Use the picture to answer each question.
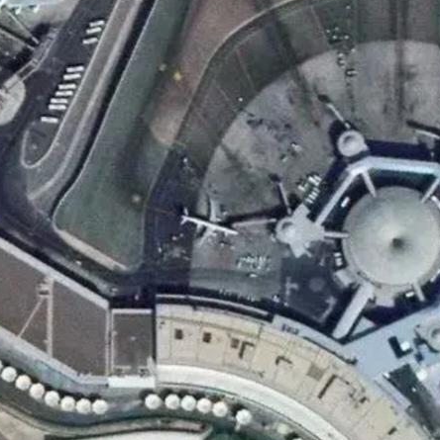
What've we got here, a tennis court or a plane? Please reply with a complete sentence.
Looking from above, you can make out a plane.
